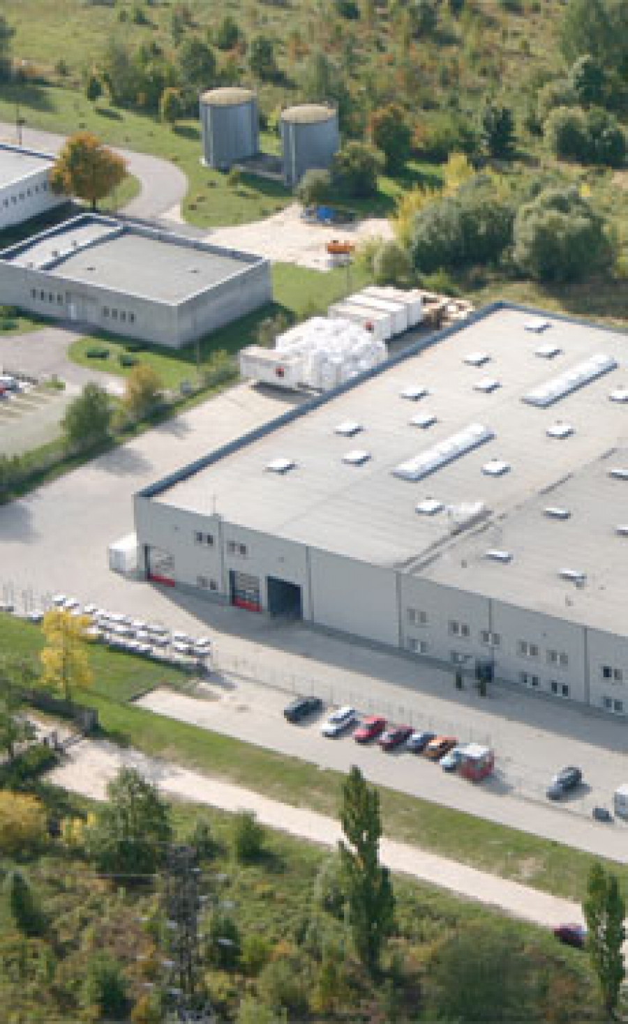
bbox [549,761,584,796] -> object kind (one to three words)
car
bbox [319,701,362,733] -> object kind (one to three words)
car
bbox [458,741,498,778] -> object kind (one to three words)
van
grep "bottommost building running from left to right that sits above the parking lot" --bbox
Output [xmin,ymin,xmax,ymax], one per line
[0,215,272,347]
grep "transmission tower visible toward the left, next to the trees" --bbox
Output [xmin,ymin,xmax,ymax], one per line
[128,842,250,1024]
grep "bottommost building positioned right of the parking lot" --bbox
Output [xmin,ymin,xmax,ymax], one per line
[130,298,628,722]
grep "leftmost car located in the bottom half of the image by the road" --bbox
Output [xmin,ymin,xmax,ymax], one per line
[278,688,327,720]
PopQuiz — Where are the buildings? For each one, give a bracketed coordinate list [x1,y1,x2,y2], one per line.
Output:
[0,215,272,347]
[0,140,68,229]
[130,298,628,722]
